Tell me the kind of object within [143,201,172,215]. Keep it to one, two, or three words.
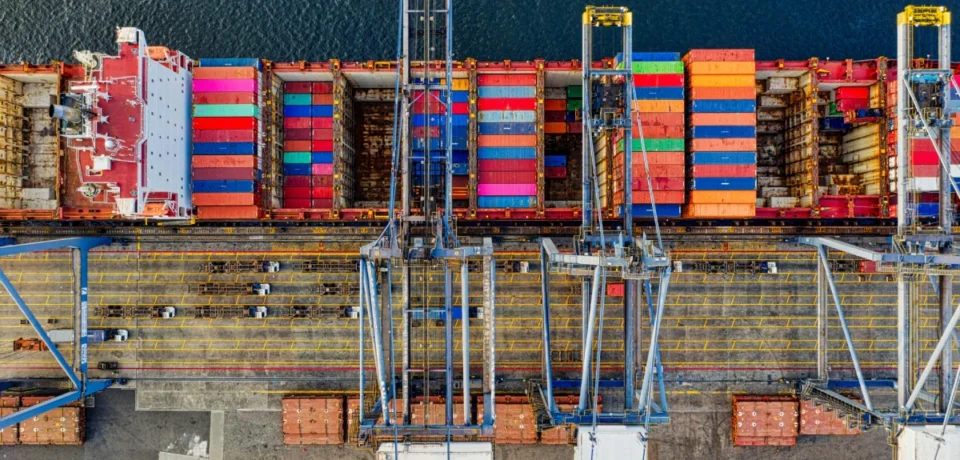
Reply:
boat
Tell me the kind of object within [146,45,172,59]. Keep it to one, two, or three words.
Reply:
boat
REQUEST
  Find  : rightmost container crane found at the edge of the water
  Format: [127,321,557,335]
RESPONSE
[782,6,960,460]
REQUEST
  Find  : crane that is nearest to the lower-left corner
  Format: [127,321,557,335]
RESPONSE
[0,234,128,433]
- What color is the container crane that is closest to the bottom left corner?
blue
